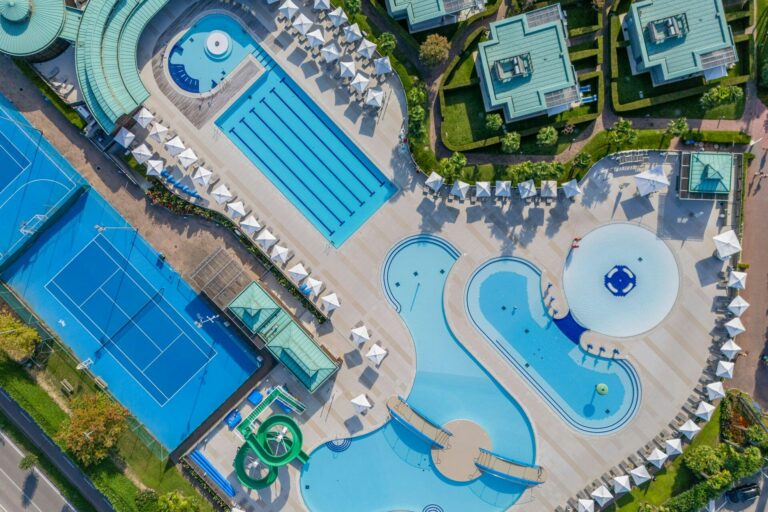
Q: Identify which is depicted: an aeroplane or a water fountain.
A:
water fountain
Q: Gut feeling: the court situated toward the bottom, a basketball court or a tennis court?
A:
tennis court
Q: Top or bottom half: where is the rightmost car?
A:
bottom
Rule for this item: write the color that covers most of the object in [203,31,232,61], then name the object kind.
white fountain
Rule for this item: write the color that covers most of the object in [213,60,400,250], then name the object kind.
blue swimming pool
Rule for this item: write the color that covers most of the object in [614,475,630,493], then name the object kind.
white umbrella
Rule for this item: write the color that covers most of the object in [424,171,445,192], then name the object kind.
white umbrella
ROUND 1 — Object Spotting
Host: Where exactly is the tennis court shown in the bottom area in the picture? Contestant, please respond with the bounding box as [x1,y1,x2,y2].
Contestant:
[3,184,256,450]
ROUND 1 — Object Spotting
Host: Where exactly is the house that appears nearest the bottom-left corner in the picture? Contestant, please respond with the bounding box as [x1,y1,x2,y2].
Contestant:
[227,281,338,392]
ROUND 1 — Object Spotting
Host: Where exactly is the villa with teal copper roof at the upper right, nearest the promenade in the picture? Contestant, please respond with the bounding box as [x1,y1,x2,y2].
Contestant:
[616,0,734,90]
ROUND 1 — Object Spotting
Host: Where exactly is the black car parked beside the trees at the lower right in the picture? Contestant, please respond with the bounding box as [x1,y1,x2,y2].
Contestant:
[724,483,760,504]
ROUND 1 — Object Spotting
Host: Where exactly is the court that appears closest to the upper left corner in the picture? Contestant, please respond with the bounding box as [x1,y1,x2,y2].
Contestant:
[0,92,87,282]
